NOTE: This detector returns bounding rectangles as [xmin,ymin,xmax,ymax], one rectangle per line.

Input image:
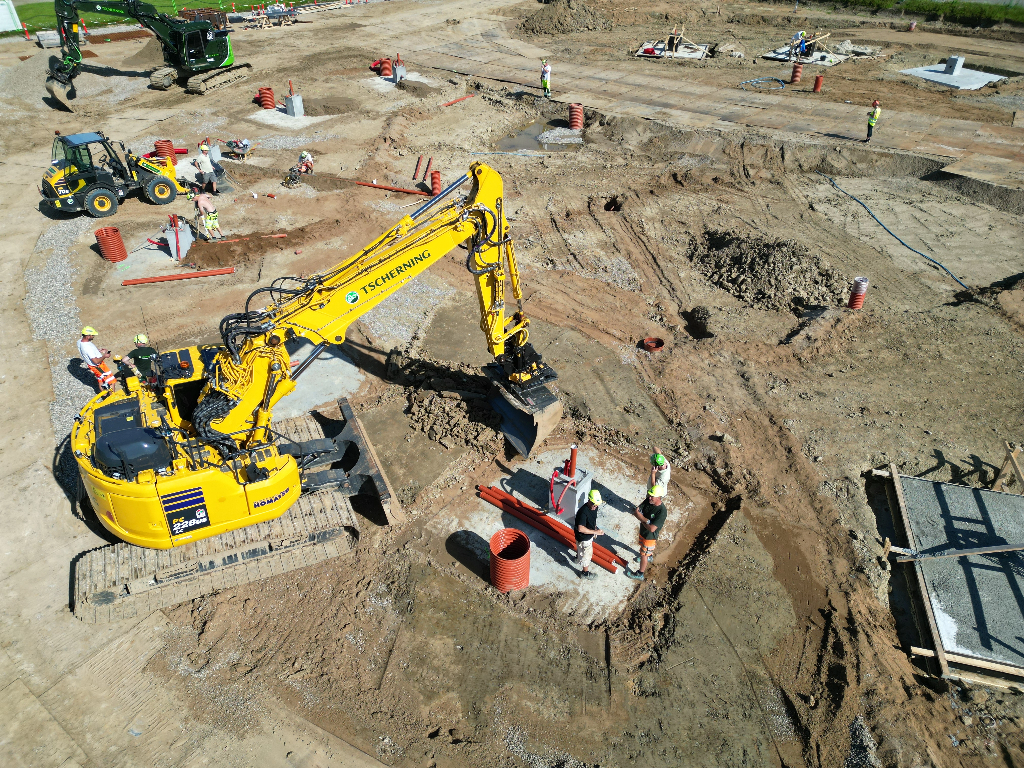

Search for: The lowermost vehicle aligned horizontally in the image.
[30,124,227,223]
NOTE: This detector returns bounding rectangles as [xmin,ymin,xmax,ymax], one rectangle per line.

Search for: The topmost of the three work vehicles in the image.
[46,0,255,108]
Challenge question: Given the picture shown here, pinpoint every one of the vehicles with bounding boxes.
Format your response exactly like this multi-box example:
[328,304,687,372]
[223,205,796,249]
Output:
[66,158,568,616]
[46,0,255,108]
[30,124,227,223]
